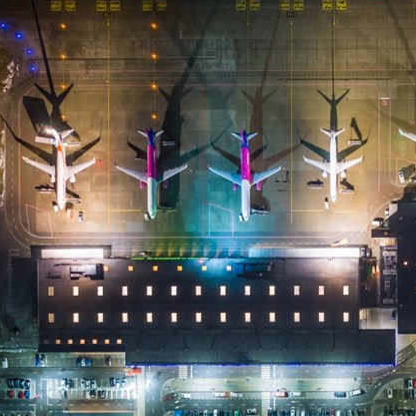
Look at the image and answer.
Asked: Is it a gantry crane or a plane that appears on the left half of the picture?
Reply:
plane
